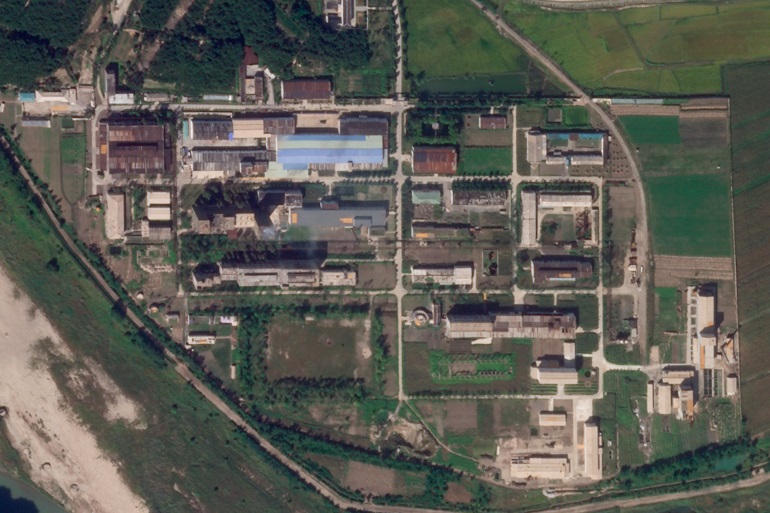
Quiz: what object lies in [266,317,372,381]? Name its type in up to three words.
sports field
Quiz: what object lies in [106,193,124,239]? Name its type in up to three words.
house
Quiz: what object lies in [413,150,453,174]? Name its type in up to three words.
building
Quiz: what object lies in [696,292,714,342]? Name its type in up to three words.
building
